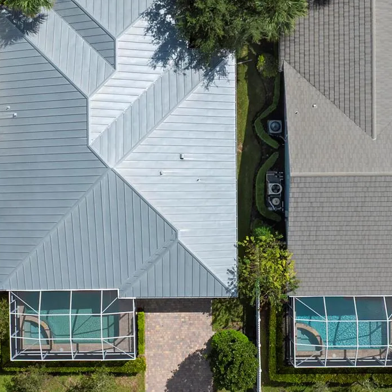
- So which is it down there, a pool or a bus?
pool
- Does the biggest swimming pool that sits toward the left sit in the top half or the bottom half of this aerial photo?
bottom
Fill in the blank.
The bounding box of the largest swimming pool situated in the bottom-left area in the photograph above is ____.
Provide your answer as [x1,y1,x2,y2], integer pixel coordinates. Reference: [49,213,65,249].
[20,293,123,347]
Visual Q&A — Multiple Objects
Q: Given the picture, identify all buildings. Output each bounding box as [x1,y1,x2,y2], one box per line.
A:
[278,0,392,297]
[0,0,239,298]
